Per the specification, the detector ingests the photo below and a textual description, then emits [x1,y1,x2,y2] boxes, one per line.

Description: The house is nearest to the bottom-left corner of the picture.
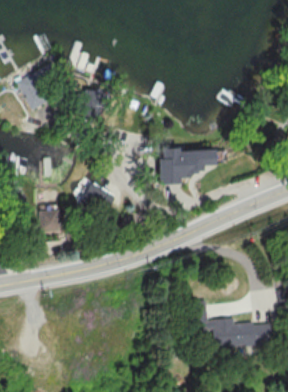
[40,210,60,234]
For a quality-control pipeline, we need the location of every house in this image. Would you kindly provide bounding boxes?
[192,298,270,346]
[82,88,104,116]
[72,178,116,207]
[17,76,46,110]
[160,146,218,184]
[40,210,60,234]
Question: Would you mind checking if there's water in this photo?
Yes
